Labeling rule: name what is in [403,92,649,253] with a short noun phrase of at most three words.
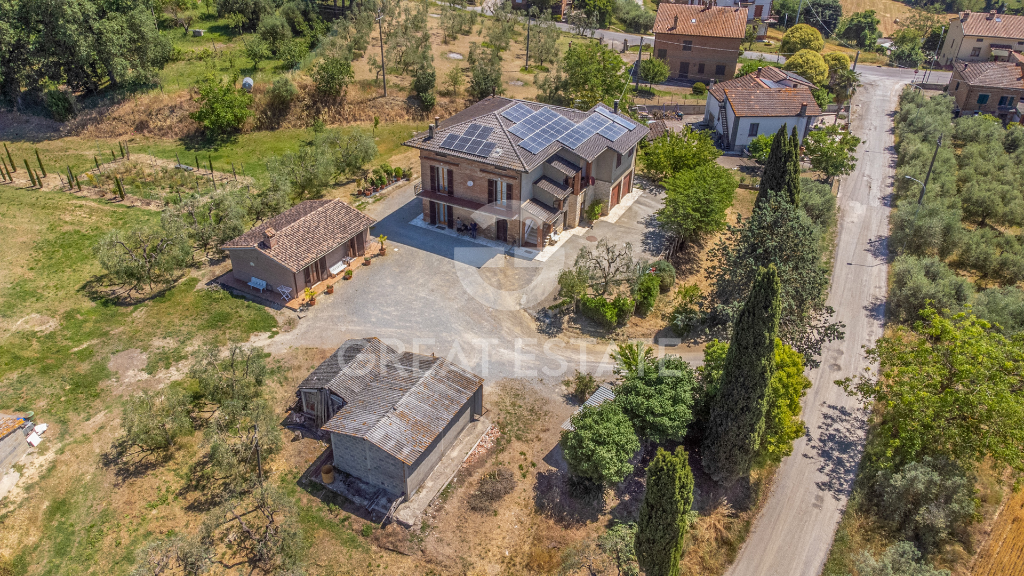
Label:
house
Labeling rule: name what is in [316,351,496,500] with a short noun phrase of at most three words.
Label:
barn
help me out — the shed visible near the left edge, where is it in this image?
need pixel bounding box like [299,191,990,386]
[0,400,29,465]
